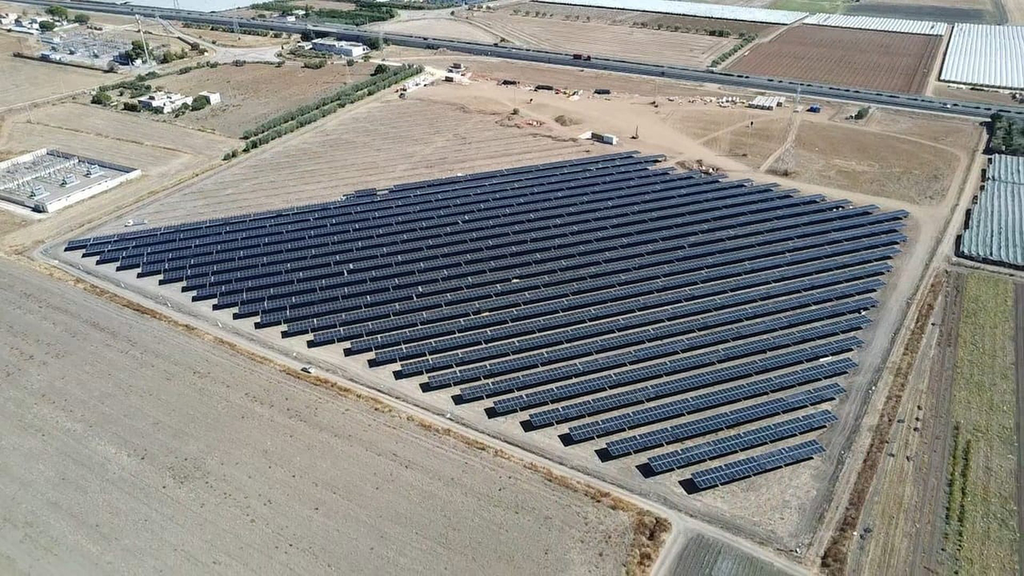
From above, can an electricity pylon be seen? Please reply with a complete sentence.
Yes, the picture does show an electricity pylon.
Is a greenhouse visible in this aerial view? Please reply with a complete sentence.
Yes, this view includes a greenhouse.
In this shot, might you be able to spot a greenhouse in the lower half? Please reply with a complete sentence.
No, there is no greenhouse in the lower half.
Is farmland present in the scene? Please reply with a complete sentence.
Yes, there is farmland in the image.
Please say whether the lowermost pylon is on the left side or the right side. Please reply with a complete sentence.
You can find the lowermost pylon on the right side of the picture.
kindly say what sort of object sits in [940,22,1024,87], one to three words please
greenhouse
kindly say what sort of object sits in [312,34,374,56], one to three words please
building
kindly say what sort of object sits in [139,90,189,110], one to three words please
house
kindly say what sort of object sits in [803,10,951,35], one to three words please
greenhouse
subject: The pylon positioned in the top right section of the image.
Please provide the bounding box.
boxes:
[773,82,806,177]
